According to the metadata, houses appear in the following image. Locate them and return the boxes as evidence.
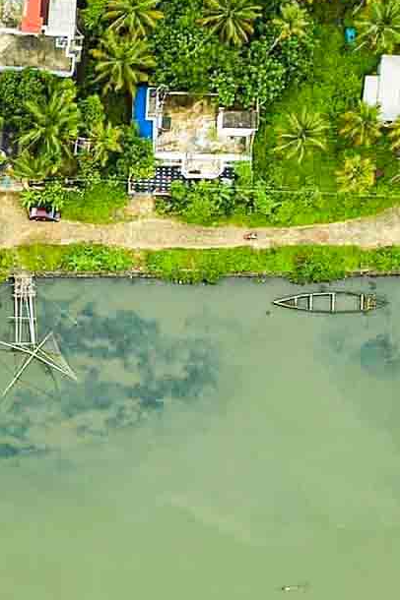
[145,84,260,184]
[0,0,85,79]
[356,54,400,125]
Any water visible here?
Yes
